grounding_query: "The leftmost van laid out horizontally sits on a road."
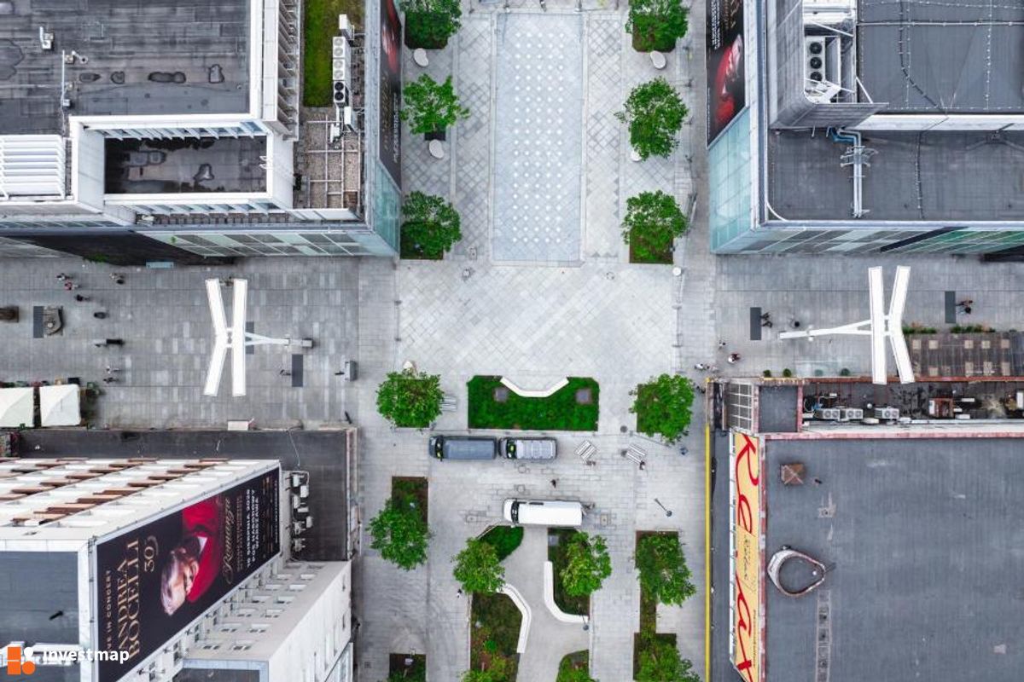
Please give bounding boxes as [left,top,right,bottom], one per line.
[429,434,498,463]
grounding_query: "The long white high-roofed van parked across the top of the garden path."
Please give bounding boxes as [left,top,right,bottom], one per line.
[504,497,586,528]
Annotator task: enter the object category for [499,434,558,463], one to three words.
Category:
car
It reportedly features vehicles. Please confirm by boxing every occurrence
[499,434,558,463]
[429,434,498,463]
[504,497,586,528]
